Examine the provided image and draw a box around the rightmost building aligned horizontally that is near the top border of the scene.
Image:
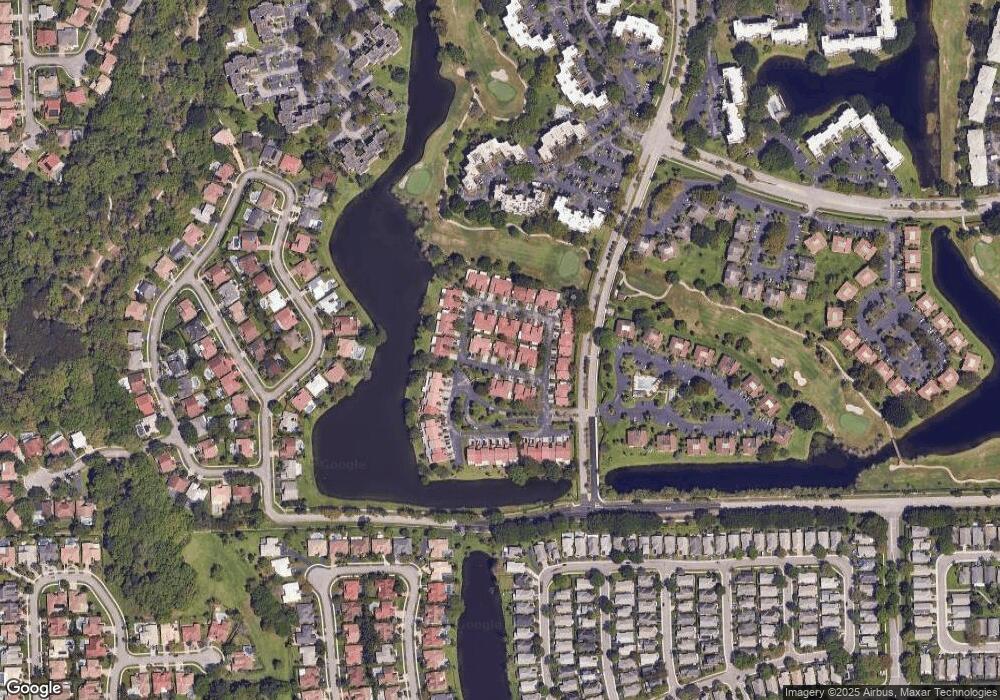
[822,33,882,56]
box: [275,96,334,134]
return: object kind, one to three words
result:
building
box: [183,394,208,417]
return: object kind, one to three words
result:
house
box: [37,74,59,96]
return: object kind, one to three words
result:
house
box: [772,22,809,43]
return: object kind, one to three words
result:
building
